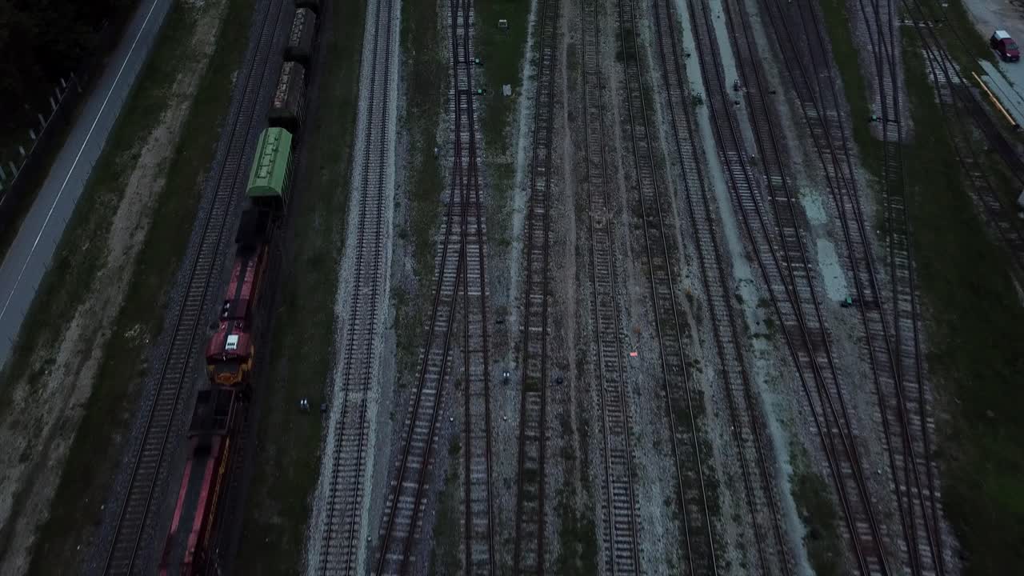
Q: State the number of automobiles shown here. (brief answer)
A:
1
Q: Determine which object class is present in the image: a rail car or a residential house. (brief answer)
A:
rail car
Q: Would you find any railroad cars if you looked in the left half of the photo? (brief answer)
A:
Yes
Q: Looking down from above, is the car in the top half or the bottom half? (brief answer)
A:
top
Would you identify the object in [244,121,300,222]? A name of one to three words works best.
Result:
rail car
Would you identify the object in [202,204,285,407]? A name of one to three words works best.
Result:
rail car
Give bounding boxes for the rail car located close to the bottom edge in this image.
[153,384,250,576]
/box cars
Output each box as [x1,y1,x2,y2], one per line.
[989,29,1020,63]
